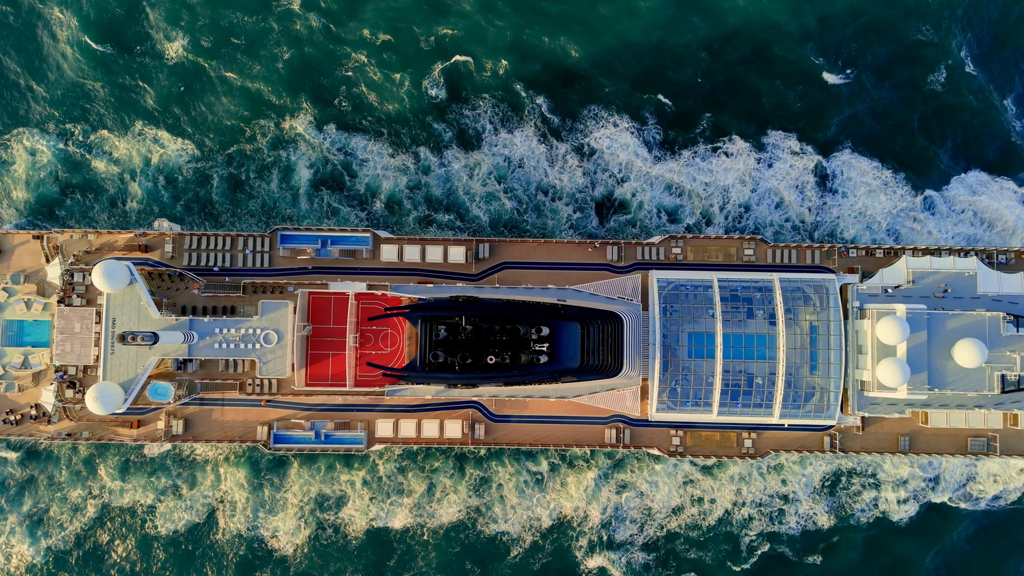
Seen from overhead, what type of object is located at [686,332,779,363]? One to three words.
swimming pool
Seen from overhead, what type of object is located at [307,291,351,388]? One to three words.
sports court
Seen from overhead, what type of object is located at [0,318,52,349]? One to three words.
swimming pool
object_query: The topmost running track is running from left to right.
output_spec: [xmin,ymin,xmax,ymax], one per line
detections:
[92,257,840,282]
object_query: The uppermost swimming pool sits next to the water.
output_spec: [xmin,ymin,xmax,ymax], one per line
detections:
[277,231,373,259]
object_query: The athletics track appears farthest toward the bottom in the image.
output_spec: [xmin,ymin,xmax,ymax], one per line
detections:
[109,397,838,433]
